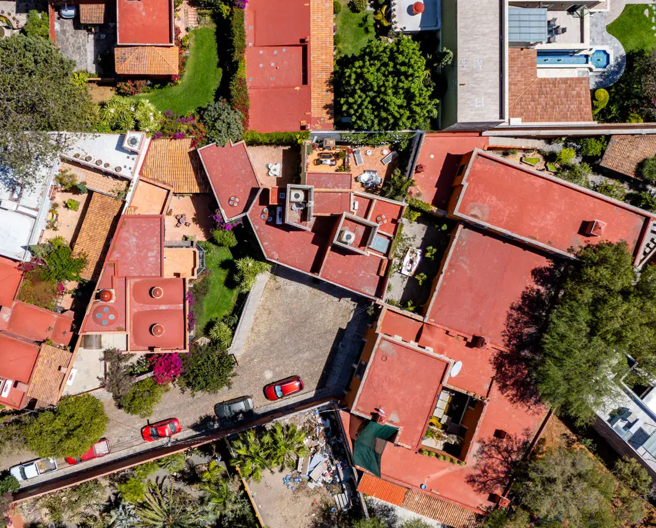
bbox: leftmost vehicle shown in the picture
[10,455,60,482]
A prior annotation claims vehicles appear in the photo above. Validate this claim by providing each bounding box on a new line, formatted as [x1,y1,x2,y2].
[140,417,182,442]
[212,394,256,420]
[68,437,115,465]
[262,375,306,401]
[59,7,76,30]
[10,455,60,482]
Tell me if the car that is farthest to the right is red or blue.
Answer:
red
